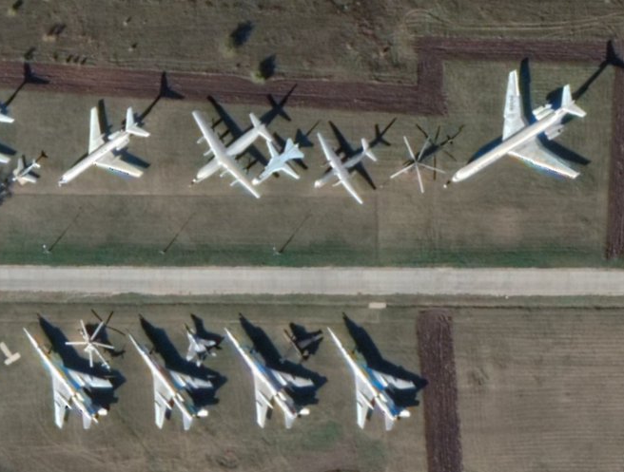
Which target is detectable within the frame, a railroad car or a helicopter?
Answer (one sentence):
Visible in the photo is a helicopter.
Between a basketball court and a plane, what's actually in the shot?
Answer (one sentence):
I can see a plane in this picture.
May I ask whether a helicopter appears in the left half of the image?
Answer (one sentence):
Yes, in the left half of the image there is a helicopter.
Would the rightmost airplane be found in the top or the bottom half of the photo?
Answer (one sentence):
Seen from above, the rightmost airplane lies in the top half of the view.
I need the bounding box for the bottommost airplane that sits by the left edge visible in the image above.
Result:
[23,329,113,431]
